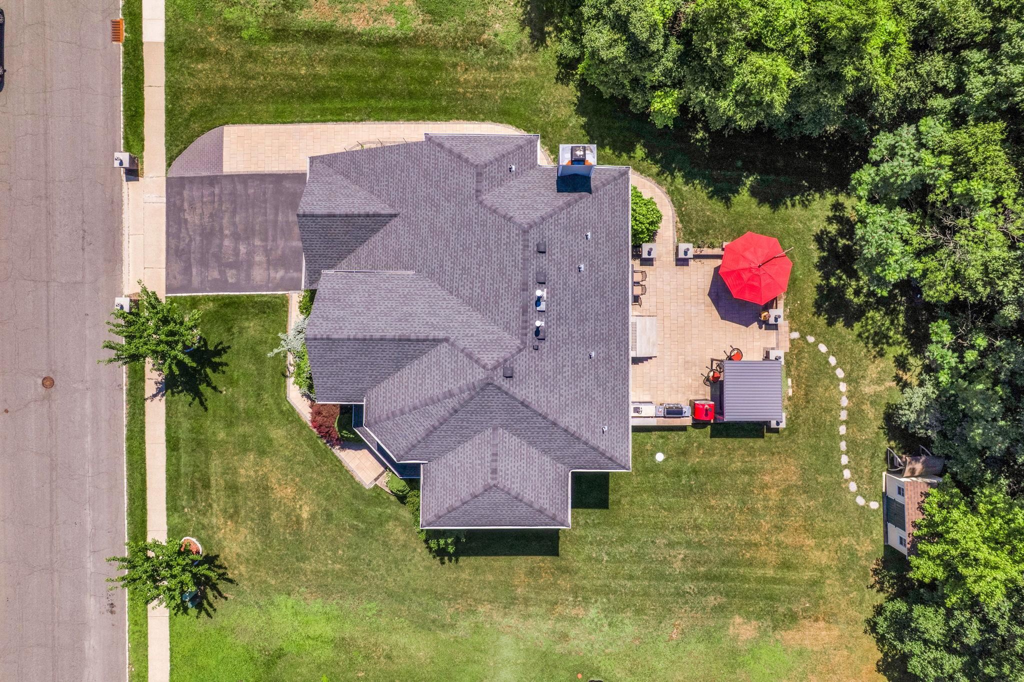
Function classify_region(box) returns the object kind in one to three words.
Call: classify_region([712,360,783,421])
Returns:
gazebo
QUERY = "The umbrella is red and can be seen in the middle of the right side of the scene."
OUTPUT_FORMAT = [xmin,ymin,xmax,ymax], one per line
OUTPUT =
[719,232,794,305]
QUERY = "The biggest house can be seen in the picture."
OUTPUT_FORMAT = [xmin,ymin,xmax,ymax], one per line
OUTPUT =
[295,133,632,528]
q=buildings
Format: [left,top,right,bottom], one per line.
[882,472,956,562]
[295,133,632,528]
